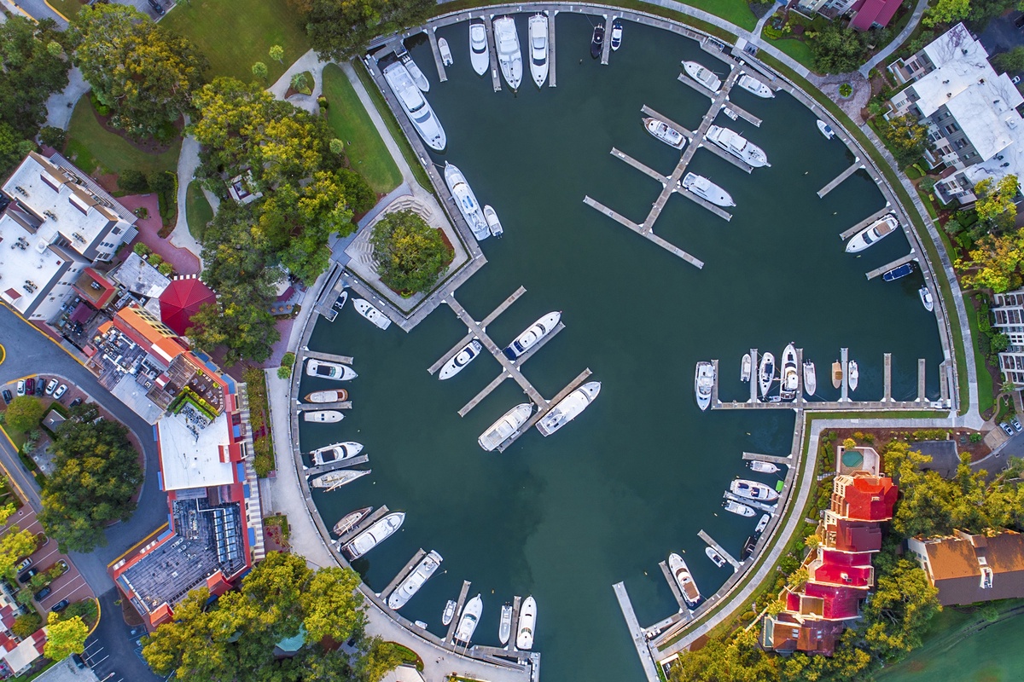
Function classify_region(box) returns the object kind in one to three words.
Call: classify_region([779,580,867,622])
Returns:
house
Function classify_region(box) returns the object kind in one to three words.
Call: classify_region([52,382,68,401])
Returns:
car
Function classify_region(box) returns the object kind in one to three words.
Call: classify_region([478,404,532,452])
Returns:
boat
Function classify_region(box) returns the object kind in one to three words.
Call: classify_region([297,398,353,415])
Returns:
pier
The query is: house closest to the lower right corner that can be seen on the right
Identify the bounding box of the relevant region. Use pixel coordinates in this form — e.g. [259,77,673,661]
[903,528,1024,606]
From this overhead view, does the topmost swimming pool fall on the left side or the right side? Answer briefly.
right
